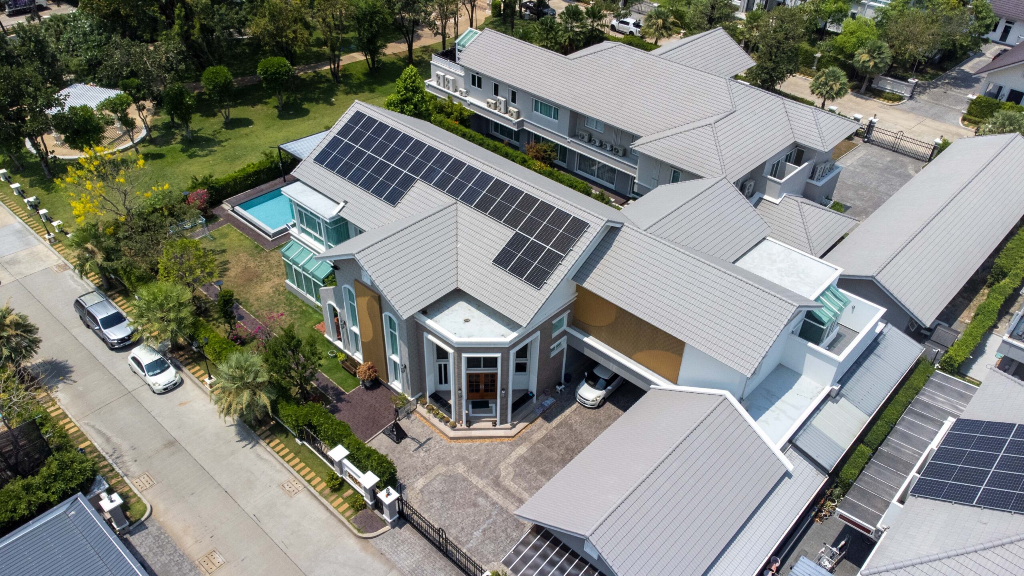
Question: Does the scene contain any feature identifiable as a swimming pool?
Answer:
Yes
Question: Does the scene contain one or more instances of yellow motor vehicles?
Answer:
No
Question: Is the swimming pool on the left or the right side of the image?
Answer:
left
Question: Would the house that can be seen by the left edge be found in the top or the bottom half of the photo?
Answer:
bottom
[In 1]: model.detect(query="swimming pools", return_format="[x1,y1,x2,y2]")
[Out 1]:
[223,179,300,245]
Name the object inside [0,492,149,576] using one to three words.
house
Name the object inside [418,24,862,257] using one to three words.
house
